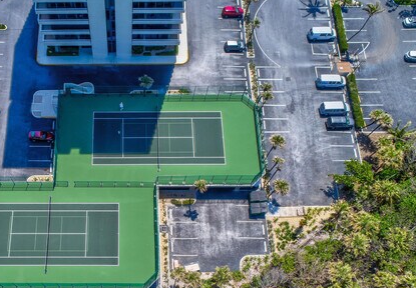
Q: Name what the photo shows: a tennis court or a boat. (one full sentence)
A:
The one in the frame is a tennis court.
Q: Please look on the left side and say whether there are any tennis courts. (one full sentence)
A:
Yes, you'll find a tennis court on the left side.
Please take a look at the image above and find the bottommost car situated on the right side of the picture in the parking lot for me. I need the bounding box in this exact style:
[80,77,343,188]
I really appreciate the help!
[326,117,353,130]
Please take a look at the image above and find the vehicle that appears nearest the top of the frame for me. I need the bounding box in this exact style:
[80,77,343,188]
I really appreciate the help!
[218,4,241,16]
